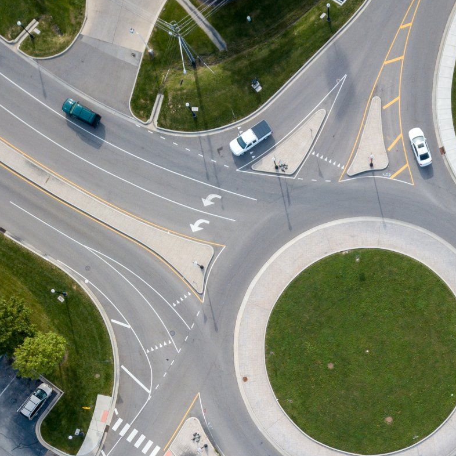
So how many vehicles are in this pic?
4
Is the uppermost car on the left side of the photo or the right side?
left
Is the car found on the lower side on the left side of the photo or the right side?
left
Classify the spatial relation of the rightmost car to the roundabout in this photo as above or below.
above it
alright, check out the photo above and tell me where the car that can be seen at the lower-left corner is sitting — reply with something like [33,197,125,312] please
[20,383,53,420]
